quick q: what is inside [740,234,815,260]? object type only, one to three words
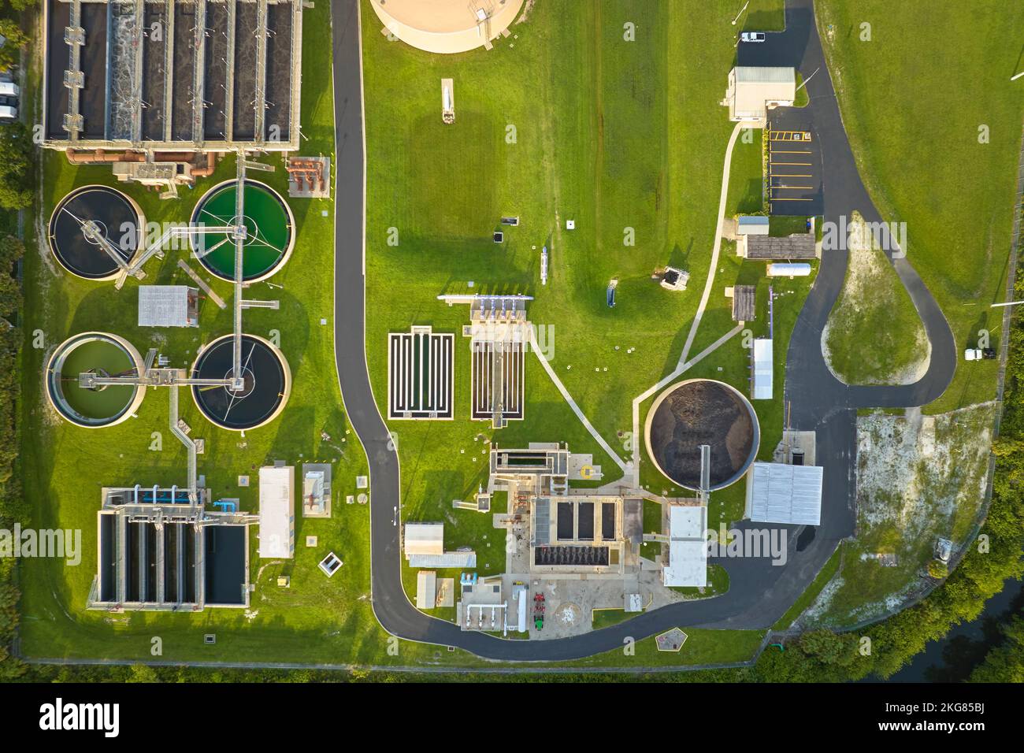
building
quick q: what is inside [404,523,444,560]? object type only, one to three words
shed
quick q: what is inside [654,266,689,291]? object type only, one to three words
building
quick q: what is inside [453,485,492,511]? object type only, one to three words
shed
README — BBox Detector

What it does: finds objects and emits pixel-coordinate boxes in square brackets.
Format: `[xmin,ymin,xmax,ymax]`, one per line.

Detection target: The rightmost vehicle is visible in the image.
[966,349,1000,361]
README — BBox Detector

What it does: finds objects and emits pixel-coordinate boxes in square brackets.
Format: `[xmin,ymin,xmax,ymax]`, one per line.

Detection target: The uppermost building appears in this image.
[719,67,795,120]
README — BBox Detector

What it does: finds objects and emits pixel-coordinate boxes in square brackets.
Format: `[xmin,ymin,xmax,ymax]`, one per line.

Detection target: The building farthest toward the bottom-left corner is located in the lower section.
[257,459,295,557]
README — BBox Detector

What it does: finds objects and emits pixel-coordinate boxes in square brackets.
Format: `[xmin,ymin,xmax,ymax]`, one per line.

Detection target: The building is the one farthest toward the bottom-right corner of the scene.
[742,452,824,526]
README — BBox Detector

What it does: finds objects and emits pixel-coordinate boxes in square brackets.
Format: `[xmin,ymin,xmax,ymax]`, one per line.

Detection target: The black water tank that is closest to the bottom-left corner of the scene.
[191,333,293,430]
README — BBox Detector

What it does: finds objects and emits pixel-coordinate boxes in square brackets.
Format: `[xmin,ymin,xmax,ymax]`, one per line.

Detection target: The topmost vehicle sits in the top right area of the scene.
[742,29,767,41]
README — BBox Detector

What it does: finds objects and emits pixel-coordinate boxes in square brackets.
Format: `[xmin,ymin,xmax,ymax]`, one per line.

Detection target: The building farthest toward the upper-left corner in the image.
[118,161,201,200]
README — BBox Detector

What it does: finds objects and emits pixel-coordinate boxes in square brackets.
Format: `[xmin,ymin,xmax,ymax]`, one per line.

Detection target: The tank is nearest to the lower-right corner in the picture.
[643,378,761,506]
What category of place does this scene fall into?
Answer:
industrial area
